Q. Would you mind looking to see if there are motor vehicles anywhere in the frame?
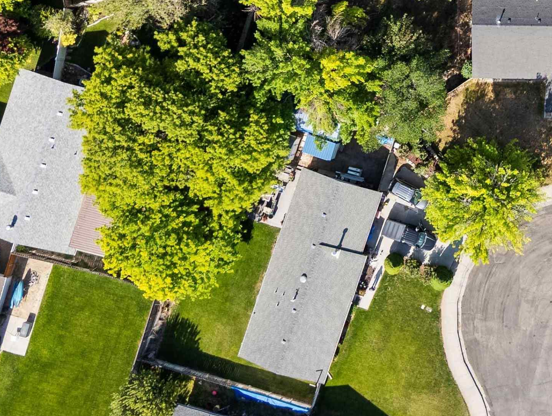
Yes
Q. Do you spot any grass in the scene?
Yes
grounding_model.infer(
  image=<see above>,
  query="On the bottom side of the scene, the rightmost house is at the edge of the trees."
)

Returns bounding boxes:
[239,168,383,385]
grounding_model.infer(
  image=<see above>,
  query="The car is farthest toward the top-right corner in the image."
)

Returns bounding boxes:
[387,178,433,213]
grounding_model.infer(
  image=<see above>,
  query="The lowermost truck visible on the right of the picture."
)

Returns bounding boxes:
[381,217,440,252]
